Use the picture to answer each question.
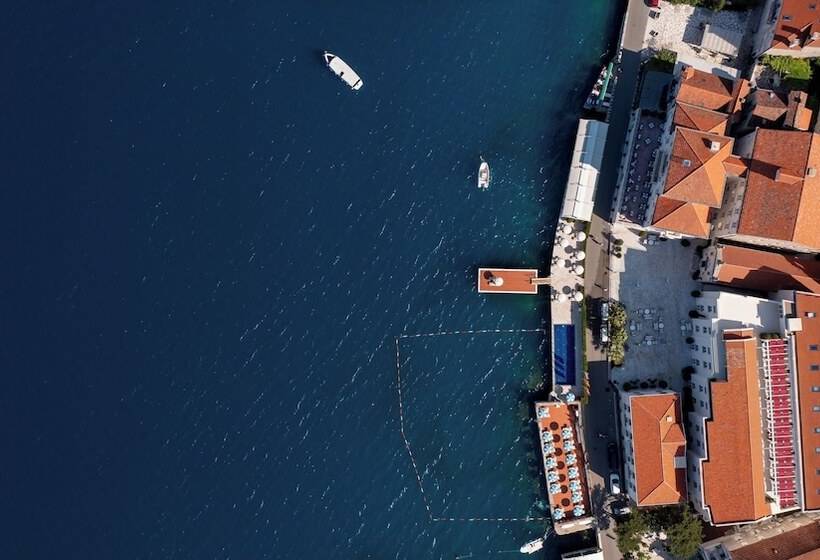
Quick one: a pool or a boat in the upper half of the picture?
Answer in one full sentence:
The feature located in the upper half of the picture is a boat.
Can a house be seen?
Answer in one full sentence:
Yes, there's a house down there.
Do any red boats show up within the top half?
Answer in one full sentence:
No, I see no red boat within the top half.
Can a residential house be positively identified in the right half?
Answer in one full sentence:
Yes, in the right half there is a residential house.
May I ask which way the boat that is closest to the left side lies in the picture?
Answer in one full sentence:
What the image shows is the boat that is closest to the left side lying at an angle.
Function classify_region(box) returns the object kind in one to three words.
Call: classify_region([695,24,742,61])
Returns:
shed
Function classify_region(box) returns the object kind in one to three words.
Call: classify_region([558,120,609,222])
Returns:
building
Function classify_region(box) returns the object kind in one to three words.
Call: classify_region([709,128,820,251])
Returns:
house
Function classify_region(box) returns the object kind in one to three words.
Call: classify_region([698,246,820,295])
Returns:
house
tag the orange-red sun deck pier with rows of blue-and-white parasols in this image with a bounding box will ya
[534,400,597,535]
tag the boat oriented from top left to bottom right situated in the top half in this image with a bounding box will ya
[325,55,366,95]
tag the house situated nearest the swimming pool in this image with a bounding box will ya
[620,389,689,506]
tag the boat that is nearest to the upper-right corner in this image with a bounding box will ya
[581,68,610,114]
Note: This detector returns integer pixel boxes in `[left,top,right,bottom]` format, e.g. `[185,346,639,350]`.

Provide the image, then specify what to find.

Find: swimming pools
[553,323,578,387]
